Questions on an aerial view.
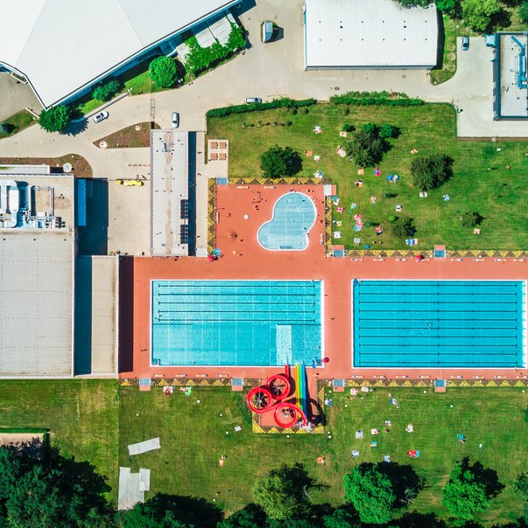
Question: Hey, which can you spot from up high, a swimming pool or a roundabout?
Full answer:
The one in the frame is a swimming pool.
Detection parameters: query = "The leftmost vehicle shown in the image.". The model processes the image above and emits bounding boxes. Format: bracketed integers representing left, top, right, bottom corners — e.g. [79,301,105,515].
[92,111,109,123]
